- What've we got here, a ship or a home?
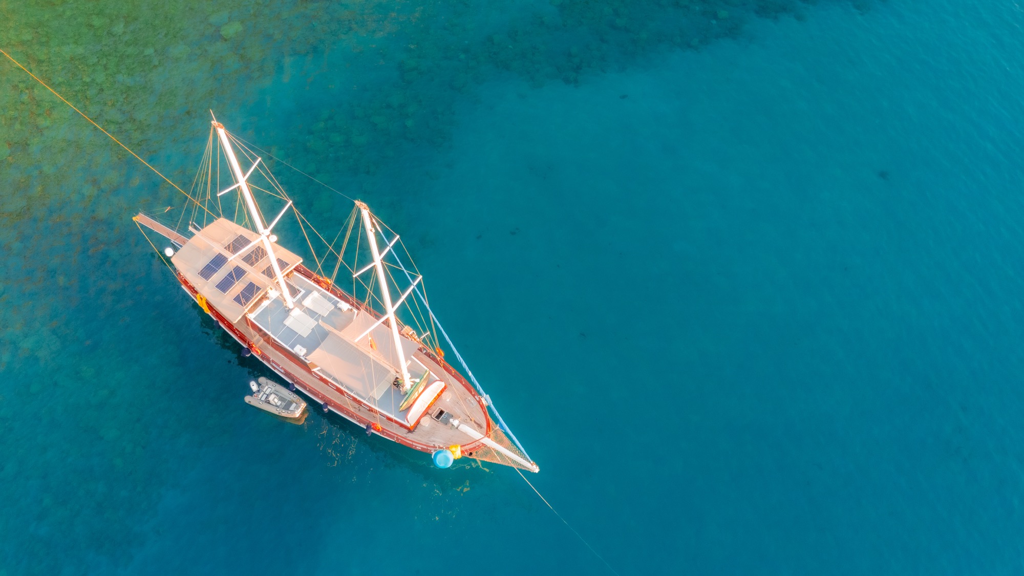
ship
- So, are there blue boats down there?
No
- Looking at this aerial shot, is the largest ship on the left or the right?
left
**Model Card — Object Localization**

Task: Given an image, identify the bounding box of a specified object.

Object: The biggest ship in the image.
[136,107,538,471]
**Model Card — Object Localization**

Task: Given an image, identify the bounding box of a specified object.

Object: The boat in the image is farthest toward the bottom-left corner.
[245,379,305,419]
